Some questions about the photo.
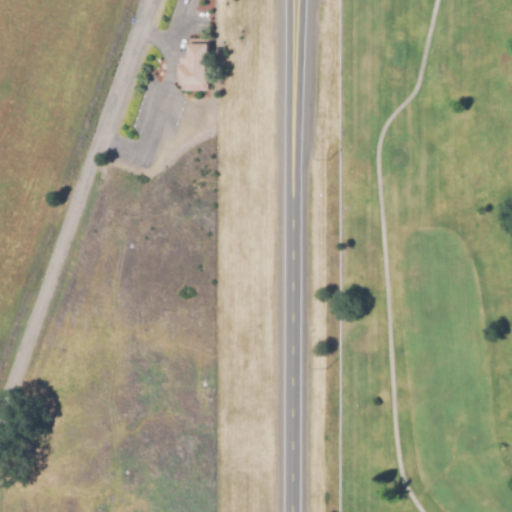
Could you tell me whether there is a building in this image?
Yes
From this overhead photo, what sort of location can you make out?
golf course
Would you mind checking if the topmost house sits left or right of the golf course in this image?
to the left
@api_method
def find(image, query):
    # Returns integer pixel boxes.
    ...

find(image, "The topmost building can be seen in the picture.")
[178,45,210,92]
